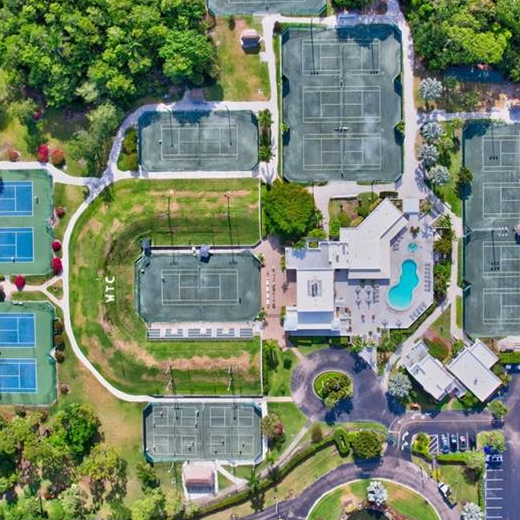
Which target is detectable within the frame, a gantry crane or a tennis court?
tennis court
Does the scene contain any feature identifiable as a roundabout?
Yes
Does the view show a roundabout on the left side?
No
